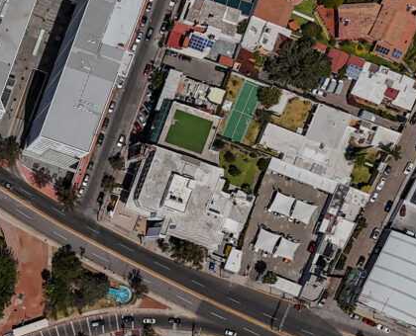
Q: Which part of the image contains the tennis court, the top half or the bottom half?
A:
top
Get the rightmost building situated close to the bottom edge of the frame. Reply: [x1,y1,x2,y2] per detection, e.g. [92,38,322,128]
[353,231,416,321]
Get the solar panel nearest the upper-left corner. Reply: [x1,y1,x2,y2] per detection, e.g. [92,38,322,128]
[189,34,215,52]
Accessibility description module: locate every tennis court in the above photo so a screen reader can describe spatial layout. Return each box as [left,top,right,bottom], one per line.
[223,78,261,143]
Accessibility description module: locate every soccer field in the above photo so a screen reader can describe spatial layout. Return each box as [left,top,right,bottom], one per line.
[165,110,214,154]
